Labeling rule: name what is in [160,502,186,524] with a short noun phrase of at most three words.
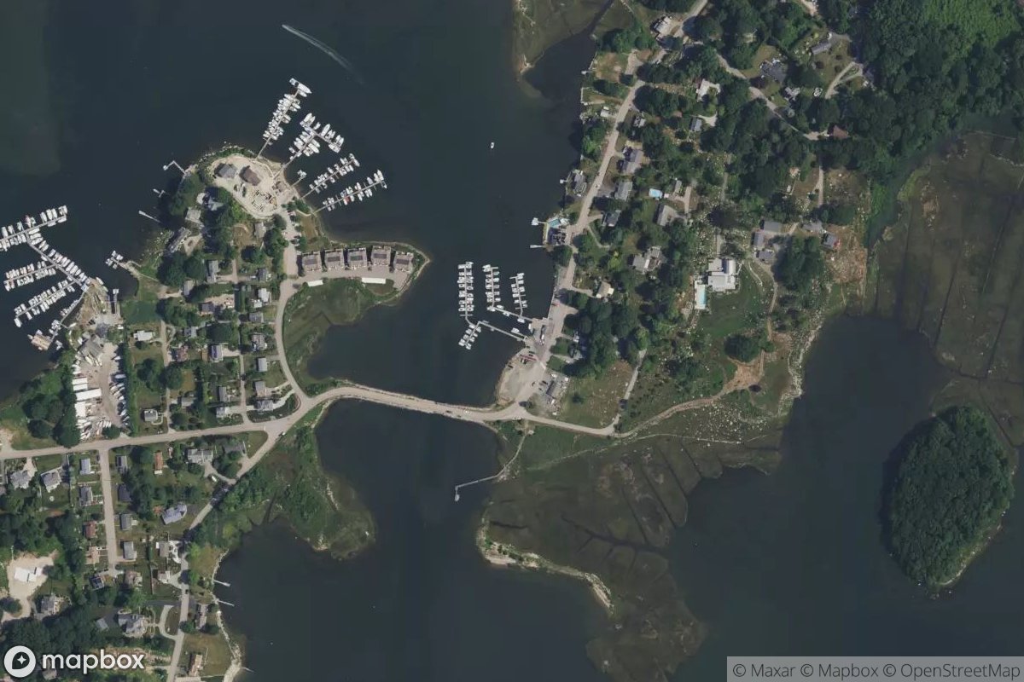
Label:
house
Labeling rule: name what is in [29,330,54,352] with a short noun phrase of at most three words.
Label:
ship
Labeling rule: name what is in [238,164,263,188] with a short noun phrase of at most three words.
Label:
building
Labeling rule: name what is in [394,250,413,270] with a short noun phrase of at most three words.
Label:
house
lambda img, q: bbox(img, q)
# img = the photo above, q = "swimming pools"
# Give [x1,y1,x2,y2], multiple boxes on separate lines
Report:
[695,281,706,308]
[649,189,662,198]
[547,217,563,230]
